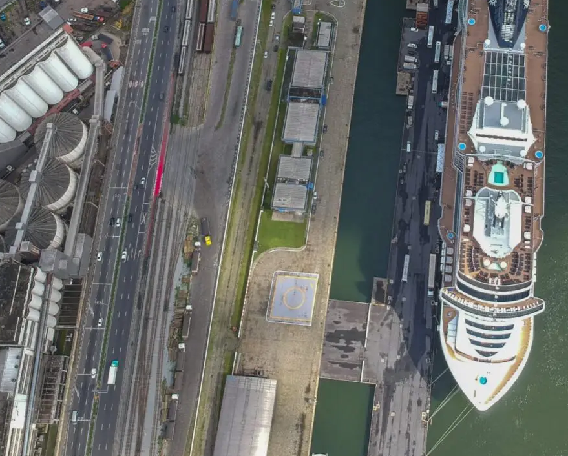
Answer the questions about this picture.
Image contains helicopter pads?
Yes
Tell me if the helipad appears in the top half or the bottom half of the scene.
bottom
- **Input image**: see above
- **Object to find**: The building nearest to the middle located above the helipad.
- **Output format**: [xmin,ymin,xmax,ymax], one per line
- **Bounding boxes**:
[271,180,309,211]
